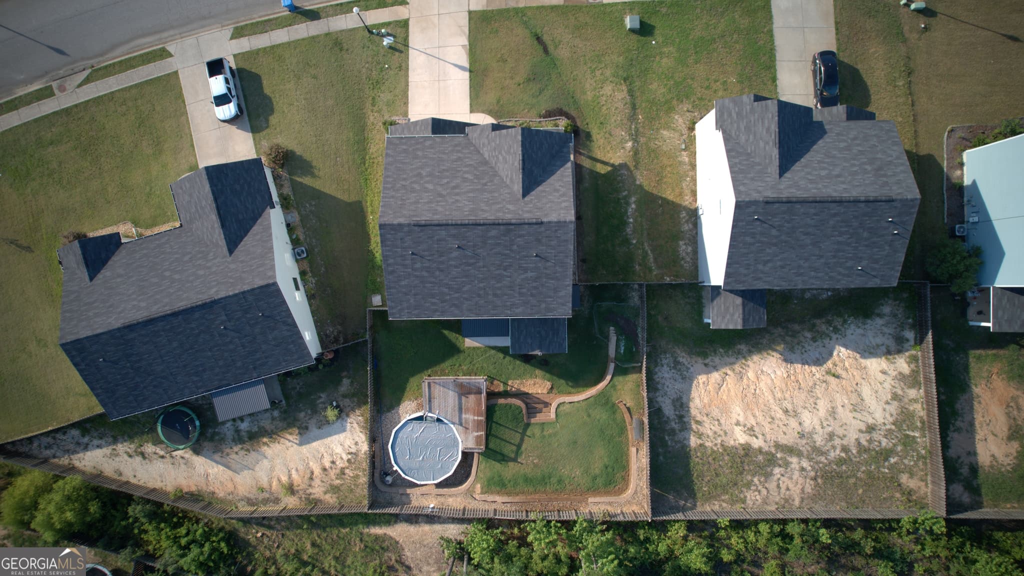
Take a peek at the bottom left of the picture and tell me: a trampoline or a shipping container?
trampoline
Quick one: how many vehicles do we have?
2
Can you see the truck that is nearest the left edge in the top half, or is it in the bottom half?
top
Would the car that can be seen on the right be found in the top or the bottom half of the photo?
top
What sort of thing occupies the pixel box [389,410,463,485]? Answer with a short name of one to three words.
swimming pool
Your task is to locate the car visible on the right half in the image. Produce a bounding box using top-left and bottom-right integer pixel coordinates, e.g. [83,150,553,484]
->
[810,48,843,110]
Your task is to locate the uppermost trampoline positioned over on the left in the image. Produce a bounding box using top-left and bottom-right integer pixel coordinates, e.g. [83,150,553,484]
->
[144,402,205,456]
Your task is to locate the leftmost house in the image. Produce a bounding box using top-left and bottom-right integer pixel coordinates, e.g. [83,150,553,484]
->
[55,159,322,420]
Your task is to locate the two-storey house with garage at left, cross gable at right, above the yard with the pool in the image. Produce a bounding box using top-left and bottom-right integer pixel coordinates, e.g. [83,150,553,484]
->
[379,118,578,356]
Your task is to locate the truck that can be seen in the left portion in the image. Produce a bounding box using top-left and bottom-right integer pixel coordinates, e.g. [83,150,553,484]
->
[205,57,244,127]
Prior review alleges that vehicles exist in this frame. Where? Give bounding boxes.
[810,48,843,110]
[205,57,244,127]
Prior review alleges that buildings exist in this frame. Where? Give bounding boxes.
[964,132,1024,332]
[697,93,920,329]
[55,159,322,420]
[379,118,578,356]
